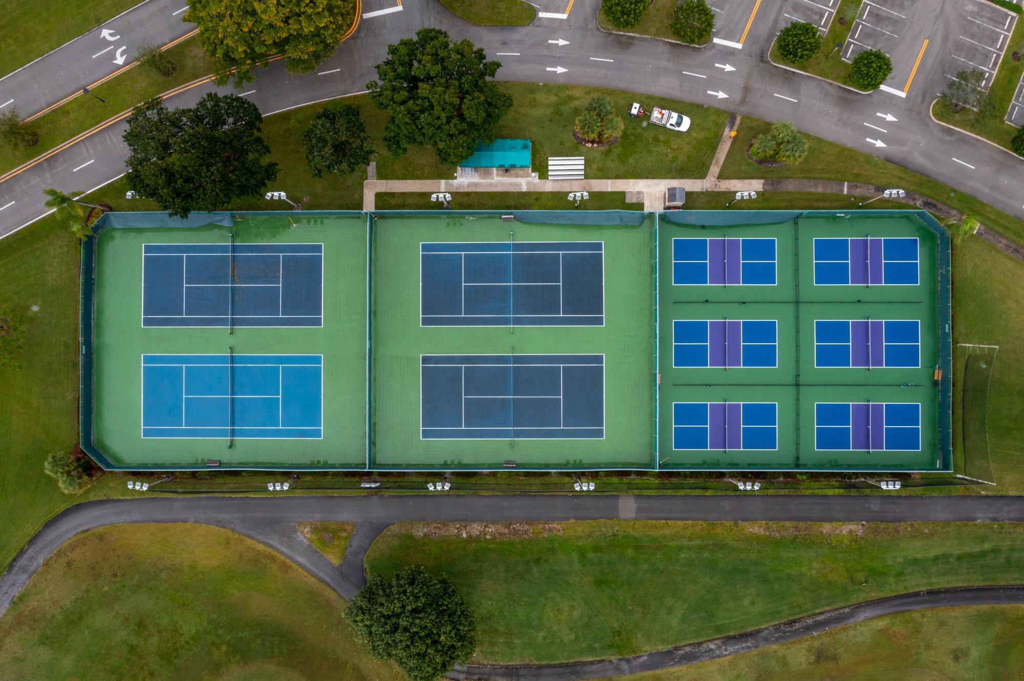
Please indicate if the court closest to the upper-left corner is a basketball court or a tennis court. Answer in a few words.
tennis court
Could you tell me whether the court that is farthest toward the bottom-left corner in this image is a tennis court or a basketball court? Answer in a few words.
tennis court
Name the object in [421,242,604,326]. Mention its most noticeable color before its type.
blue tennis court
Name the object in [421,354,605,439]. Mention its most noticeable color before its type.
blue tennis court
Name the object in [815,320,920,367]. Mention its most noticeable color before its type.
blue sports court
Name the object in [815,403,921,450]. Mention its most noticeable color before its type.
blue sports court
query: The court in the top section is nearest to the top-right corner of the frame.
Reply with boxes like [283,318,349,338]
[814,238,919,285]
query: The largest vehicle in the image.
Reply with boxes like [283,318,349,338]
[650,103,693,129]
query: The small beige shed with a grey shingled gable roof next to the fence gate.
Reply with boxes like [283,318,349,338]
[663,186,686,208]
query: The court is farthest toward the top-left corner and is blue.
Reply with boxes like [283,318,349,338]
[142,244,323,327]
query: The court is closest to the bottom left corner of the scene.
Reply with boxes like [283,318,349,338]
[142,354,323,438]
